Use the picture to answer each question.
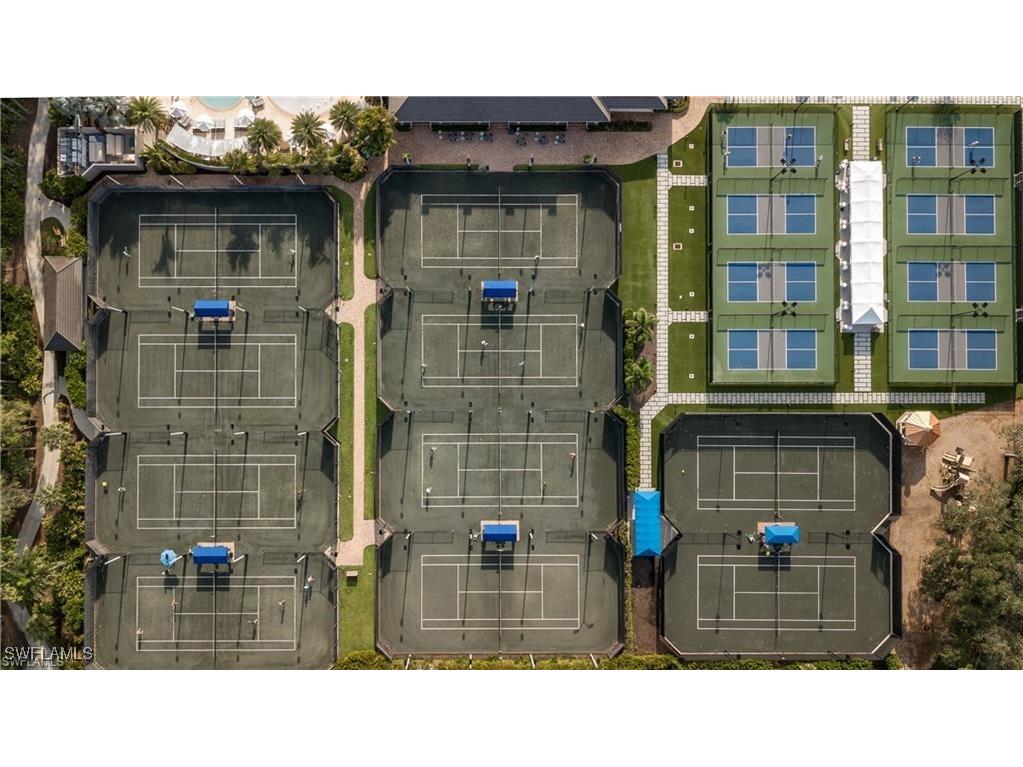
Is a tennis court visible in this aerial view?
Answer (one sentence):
Yes, there's a tennis court here.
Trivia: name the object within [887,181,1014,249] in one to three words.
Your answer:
sports court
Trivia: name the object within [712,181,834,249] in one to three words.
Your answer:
sports court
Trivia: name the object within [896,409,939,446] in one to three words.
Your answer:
gazebo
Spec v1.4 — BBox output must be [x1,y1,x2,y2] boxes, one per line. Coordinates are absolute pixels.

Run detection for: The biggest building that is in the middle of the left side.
[45,256,87,350]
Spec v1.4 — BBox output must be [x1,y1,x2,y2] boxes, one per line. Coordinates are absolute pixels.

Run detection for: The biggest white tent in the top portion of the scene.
[846,160,884,325]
